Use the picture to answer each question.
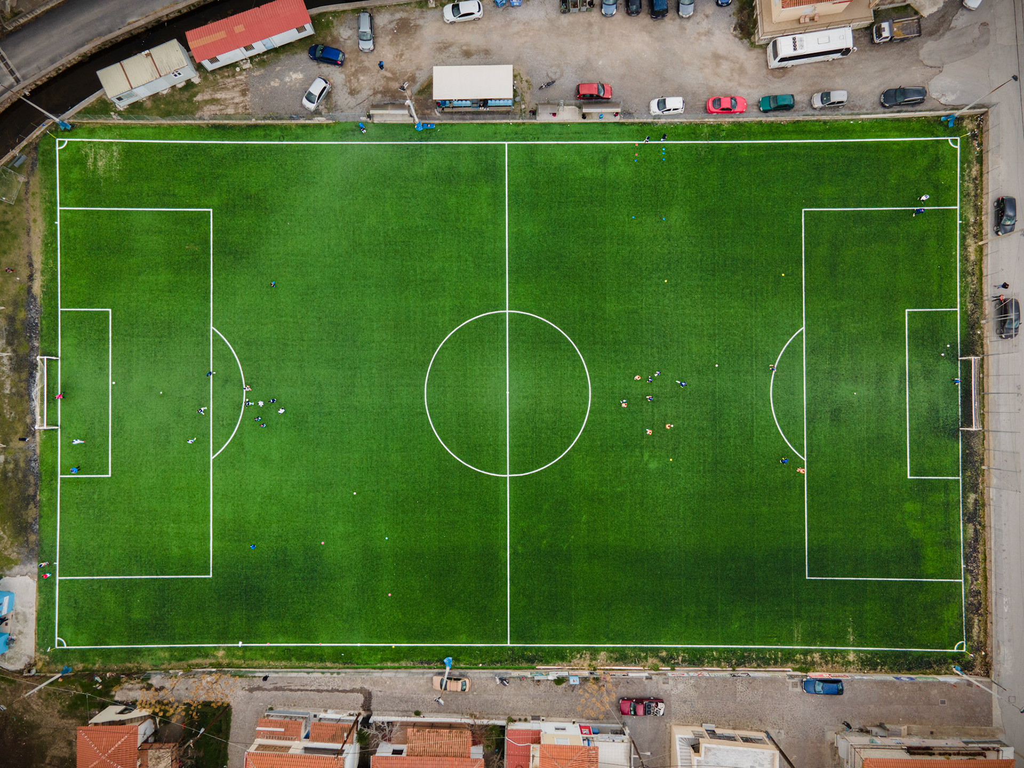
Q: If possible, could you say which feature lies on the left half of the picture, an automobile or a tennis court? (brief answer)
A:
automobile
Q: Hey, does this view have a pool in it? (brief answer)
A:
No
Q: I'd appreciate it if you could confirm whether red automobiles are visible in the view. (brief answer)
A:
Yes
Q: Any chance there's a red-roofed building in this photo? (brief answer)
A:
Yes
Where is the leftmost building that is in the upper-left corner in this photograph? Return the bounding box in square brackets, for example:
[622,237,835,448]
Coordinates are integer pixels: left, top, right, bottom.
[97,39,198,108]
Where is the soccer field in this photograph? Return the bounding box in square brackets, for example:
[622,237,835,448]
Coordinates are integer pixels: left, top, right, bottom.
[35,118,991,675]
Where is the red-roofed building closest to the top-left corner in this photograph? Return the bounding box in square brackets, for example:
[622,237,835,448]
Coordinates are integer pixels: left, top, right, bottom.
[184,0,314,70]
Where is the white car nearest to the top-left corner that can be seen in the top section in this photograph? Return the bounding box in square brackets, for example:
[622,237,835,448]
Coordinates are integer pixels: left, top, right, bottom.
[303,75,331,112]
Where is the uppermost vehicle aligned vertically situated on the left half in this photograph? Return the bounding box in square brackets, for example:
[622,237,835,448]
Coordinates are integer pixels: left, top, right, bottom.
[355,11,375,55]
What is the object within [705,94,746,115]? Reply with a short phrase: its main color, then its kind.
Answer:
red car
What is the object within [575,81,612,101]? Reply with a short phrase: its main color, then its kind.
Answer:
red car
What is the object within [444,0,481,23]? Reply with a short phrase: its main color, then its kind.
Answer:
white car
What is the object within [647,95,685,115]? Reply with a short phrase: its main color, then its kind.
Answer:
white car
